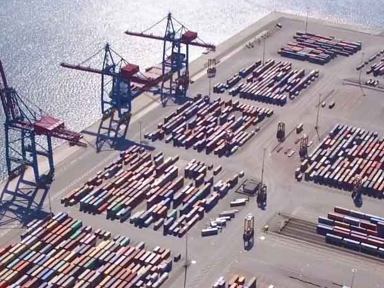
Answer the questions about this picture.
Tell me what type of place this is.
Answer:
port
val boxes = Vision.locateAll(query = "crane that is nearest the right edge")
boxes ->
[115,13,226,87]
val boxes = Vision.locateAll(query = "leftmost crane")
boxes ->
[0,80,86,188]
